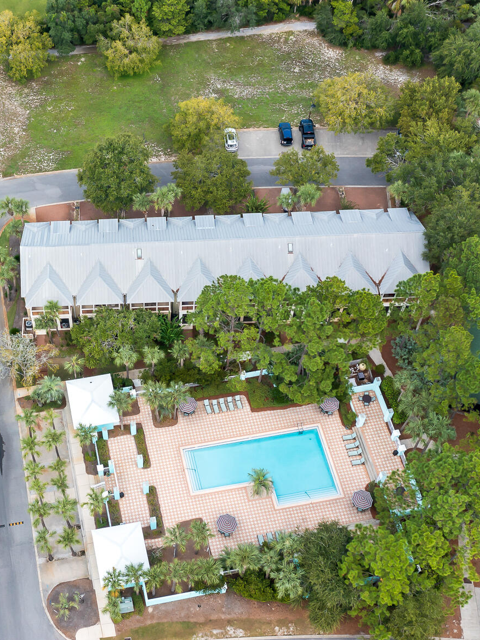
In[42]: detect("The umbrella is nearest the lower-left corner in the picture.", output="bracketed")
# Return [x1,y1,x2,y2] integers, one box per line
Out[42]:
[216,513,239,535]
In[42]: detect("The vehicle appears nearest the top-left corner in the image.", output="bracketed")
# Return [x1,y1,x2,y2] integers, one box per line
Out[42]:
[224,130,239,152]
